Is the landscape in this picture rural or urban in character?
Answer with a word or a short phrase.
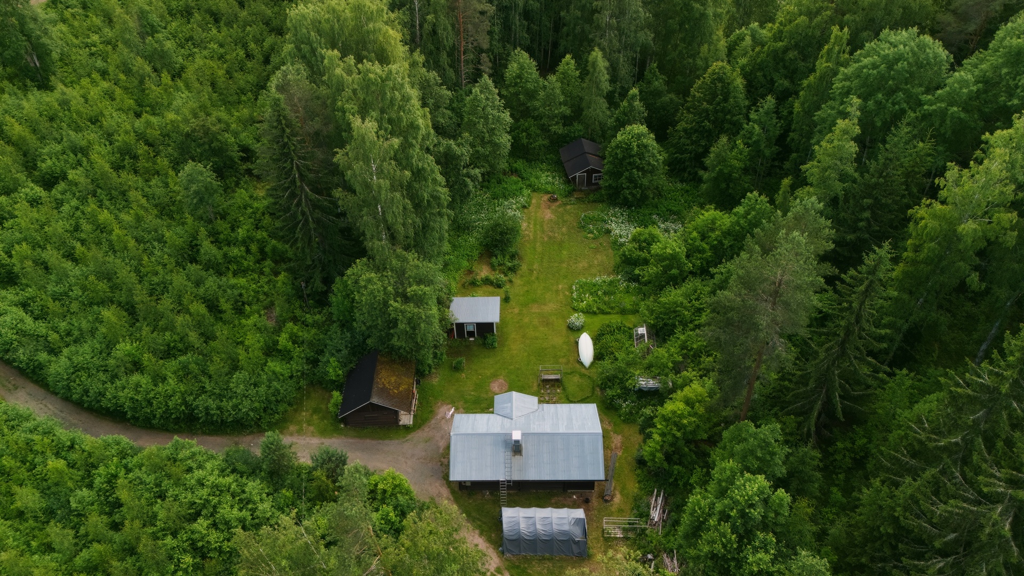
rural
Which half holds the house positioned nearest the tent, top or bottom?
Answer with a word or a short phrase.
bottom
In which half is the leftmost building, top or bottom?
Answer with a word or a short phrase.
bottom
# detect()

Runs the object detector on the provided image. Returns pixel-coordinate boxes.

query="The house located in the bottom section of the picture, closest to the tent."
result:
[448,389,609,494]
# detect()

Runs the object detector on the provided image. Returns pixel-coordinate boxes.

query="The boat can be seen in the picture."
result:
[577,333,595,371]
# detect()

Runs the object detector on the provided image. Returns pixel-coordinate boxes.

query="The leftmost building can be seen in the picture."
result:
[337,343,417,425]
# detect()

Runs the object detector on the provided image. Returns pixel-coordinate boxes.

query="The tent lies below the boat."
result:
[498,508,588,555]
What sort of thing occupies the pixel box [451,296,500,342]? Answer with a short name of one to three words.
shed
